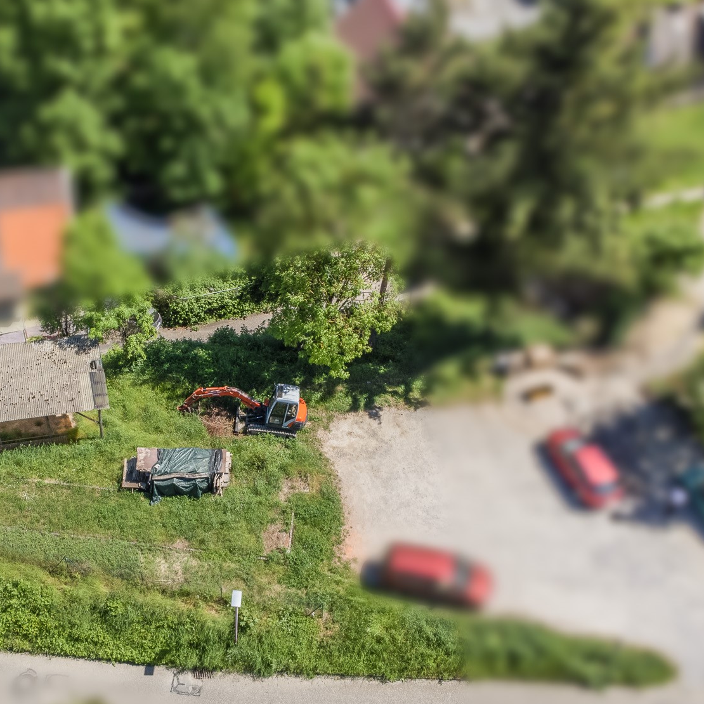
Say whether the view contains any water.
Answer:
No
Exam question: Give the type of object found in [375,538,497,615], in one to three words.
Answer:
vehicle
